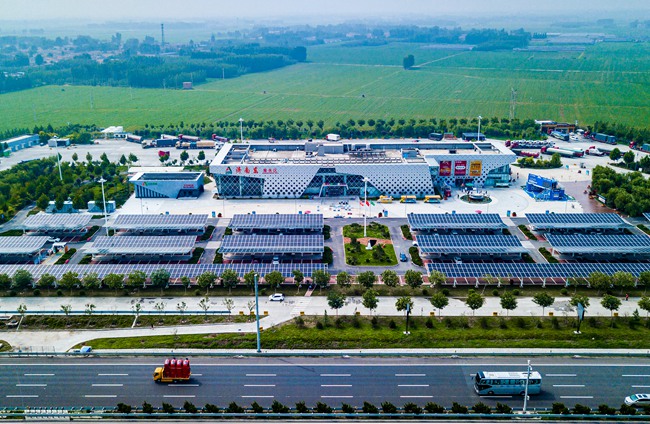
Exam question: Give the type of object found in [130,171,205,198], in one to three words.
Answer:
building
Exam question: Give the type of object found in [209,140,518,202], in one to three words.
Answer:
building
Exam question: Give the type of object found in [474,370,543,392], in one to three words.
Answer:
bus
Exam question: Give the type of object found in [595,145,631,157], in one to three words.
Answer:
vehicle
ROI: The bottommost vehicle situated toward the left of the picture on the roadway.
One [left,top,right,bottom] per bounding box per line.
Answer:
[151,361,192,385]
